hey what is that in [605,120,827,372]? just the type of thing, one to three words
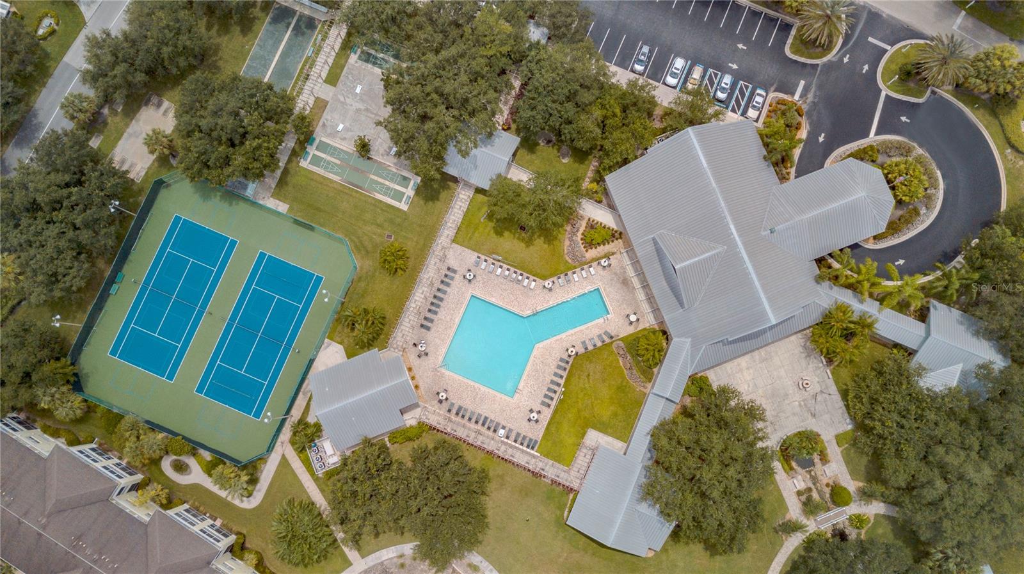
building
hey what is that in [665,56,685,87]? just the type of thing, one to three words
car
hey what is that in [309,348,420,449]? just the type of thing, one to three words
building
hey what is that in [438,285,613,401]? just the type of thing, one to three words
swimming pool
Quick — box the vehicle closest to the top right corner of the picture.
[746,89,767,120]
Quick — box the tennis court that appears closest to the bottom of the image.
[79,177,357,462]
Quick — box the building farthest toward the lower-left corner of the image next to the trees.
[0,413,257,574]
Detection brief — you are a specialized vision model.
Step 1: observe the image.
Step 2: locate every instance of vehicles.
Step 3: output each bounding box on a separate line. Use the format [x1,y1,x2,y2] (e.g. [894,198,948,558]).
[633,45,651,74]
[714,73,733,102]
[746,89,767,120]
[665,56,685,87]
[684,64,704,93]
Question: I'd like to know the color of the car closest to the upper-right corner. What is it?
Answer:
white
